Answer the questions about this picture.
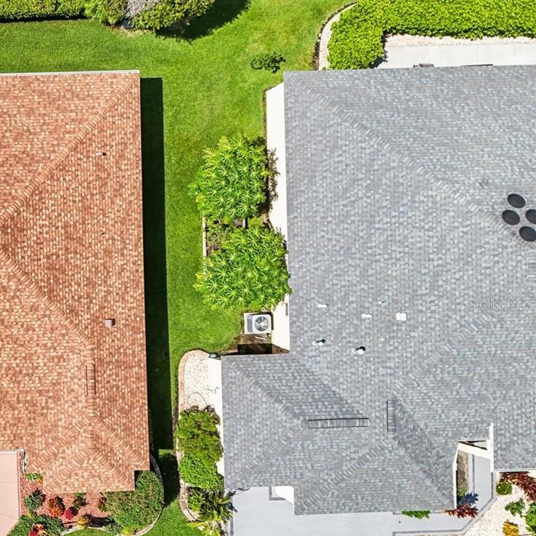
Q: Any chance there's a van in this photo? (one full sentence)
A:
No, this view has no van in it.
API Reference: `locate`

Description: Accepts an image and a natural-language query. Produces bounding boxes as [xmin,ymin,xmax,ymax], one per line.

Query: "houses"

[0,69,151,495]
[209,67,536,517]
